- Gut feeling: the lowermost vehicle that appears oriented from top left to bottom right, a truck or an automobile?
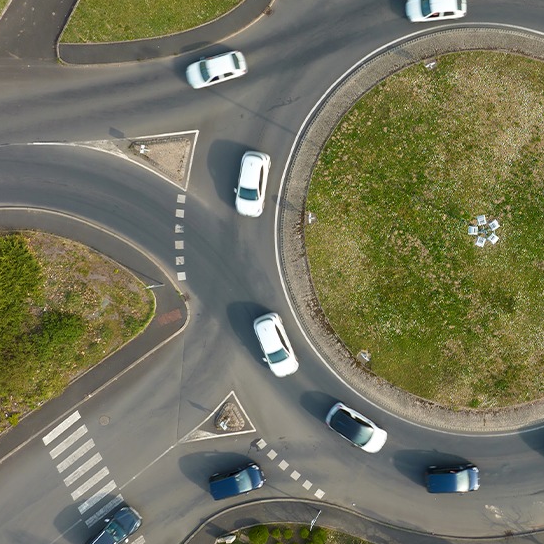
automobile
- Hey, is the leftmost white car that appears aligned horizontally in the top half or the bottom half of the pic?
top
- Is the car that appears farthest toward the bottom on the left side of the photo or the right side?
left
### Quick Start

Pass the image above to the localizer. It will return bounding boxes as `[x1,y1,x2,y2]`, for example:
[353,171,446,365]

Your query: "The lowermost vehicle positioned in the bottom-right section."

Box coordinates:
[424,463,481,495]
